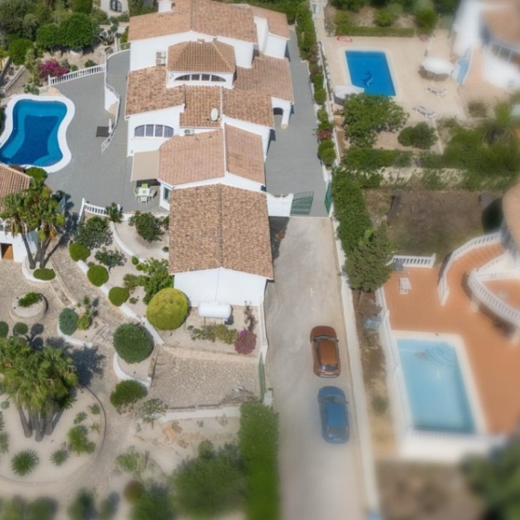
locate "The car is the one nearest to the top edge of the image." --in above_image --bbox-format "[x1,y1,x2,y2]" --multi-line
[311,330,345,382]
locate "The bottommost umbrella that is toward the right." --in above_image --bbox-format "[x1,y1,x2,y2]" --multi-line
[331,79,369,106]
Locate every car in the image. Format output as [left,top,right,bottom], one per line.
[318,390,353,446]
[311,330,345,382]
